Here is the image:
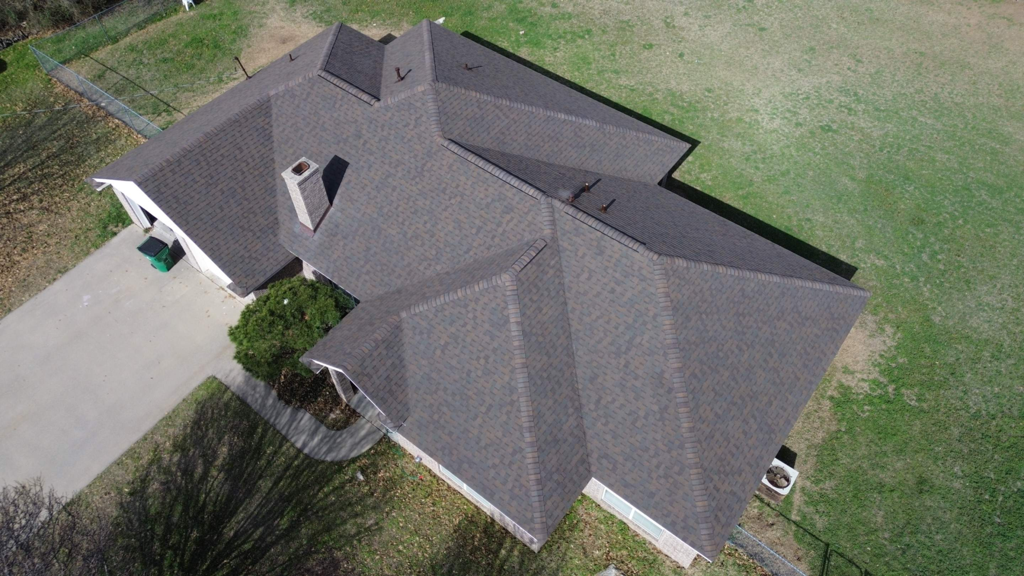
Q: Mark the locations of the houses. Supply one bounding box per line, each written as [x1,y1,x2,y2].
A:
[84,18,873,569]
